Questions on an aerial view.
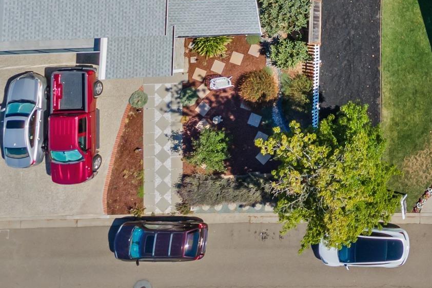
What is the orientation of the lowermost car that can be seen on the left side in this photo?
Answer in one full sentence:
The lowermost car that can be seen on the left side is oriented from side to side.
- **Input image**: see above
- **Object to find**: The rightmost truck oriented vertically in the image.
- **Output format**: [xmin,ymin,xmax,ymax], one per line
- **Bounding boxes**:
[45,65,106,181]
